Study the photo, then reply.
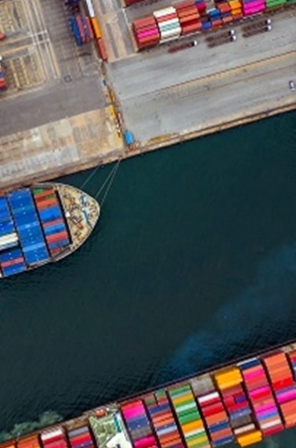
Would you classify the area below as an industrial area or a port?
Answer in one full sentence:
The area seen from above is a port.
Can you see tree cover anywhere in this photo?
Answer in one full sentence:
No, the picture contains no tree cover.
